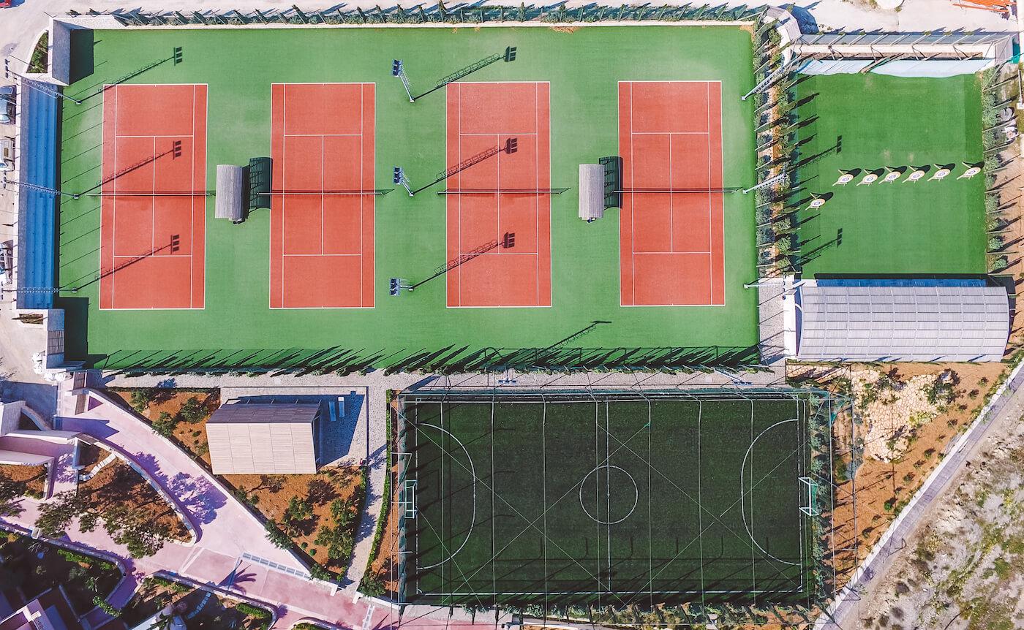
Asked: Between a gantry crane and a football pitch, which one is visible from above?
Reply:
football pitch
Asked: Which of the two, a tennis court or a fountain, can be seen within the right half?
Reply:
tennis court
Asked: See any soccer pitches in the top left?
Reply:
No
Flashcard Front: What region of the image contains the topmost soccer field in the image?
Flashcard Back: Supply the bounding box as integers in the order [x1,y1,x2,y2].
[406,387,810,605]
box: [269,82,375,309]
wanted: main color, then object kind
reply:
red tennis court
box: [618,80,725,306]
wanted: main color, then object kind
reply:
red tennis court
